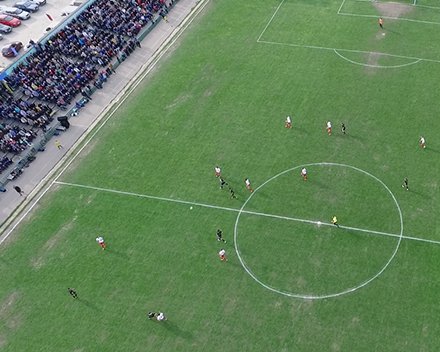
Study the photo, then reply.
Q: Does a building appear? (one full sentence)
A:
No, I can't see a single building in this photo.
